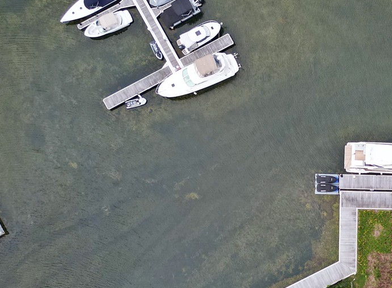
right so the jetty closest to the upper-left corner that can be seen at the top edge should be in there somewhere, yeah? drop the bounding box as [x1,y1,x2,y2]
[78,0,134,30]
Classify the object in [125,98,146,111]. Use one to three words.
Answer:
boat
